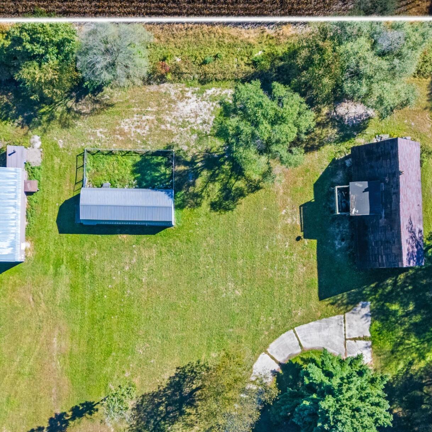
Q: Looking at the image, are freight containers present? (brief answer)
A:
No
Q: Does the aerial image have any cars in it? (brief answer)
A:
No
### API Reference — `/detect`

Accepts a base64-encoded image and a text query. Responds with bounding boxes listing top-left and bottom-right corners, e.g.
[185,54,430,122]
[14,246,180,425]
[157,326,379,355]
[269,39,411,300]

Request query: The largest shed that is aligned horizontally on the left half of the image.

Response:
[79,188,175,228]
